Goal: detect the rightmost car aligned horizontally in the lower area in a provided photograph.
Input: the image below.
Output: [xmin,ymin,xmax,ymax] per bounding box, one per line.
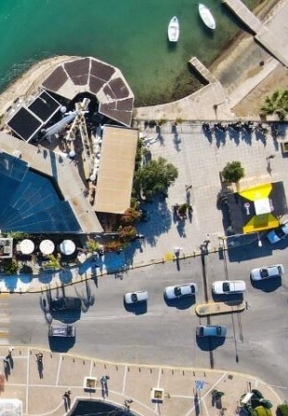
[249,264,283,281]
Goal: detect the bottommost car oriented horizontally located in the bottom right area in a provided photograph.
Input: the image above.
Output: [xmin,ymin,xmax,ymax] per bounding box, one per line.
[194,324,225,337]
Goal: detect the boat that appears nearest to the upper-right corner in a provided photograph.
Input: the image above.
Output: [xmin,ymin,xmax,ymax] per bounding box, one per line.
[200,3,216,31]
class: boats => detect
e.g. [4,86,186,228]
[200,3,216,31]
[168,15,179,44]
